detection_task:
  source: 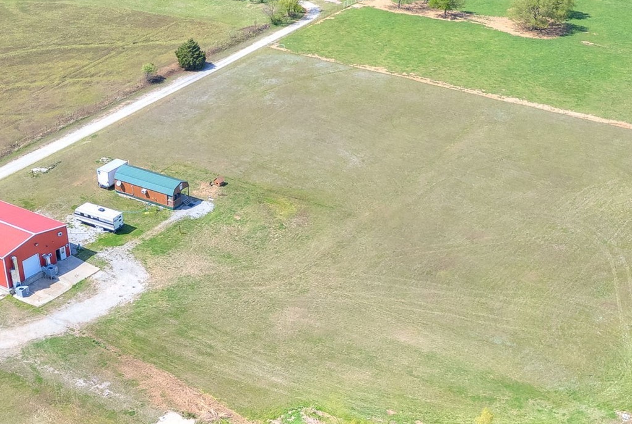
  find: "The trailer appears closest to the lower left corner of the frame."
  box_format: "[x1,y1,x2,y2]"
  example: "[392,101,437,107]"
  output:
[75,197,125,229]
